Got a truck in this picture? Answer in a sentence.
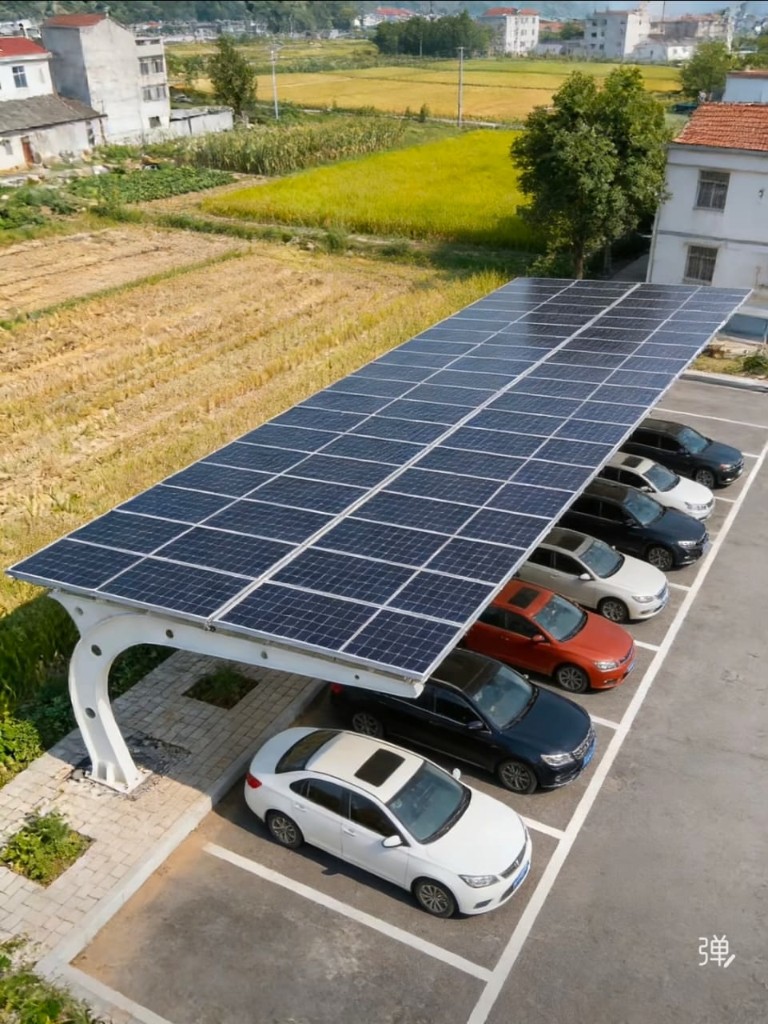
No, I can't see a single truck in this photo.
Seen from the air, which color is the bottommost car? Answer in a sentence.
From above, the bottommost car appears white.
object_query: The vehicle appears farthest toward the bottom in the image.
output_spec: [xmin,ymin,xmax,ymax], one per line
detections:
[248,732,530,917]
